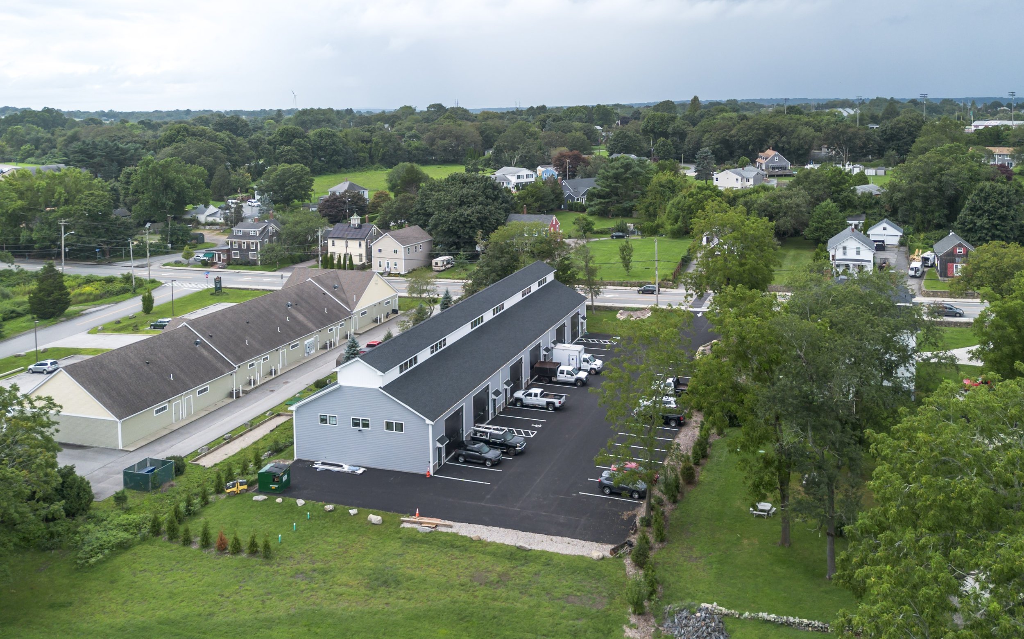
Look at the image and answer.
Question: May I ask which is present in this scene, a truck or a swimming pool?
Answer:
truck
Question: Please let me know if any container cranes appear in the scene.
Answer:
No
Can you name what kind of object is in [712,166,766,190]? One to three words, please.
house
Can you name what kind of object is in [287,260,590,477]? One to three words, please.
building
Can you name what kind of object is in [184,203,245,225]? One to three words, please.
building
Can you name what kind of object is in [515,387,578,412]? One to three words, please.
truck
